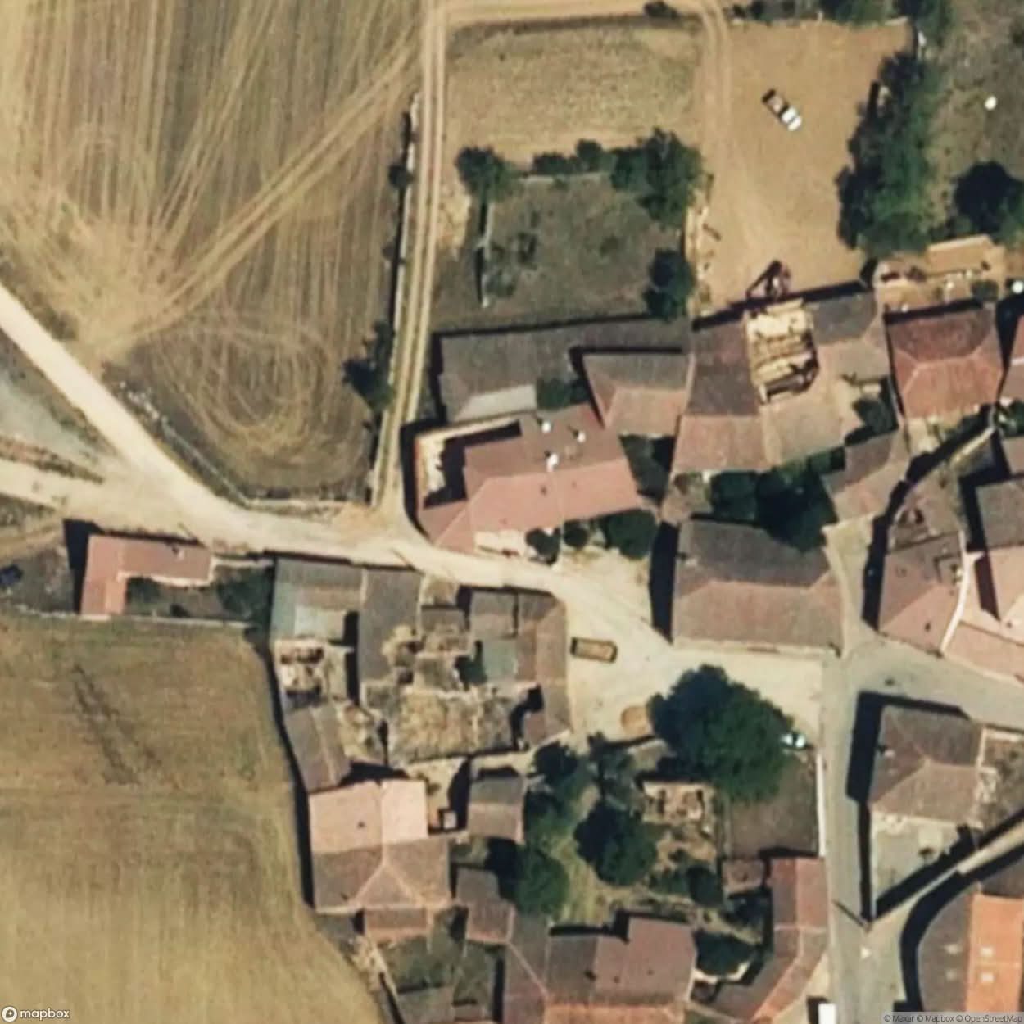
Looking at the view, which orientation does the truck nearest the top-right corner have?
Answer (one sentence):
The truck nearest the top-right corner runs diagonally in the image.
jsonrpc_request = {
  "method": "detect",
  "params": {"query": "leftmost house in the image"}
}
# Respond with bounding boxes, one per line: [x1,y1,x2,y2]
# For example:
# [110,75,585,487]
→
[82,537,211,615]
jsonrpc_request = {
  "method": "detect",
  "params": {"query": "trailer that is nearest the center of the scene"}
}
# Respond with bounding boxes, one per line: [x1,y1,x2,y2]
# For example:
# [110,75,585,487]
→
[566,637,617,662]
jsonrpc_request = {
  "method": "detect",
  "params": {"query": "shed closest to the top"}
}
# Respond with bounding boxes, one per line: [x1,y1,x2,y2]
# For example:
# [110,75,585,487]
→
[930,236,988,274]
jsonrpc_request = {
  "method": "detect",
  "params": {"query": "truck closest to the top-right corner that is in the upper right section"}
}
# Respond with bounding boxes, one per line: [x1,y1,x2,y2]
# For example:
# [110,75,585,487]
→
[764,92,801,130]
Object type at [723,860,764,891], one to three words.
shed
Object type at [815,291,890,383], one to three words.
house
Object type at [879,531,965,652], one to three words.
house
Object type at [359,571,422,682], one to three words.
barn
